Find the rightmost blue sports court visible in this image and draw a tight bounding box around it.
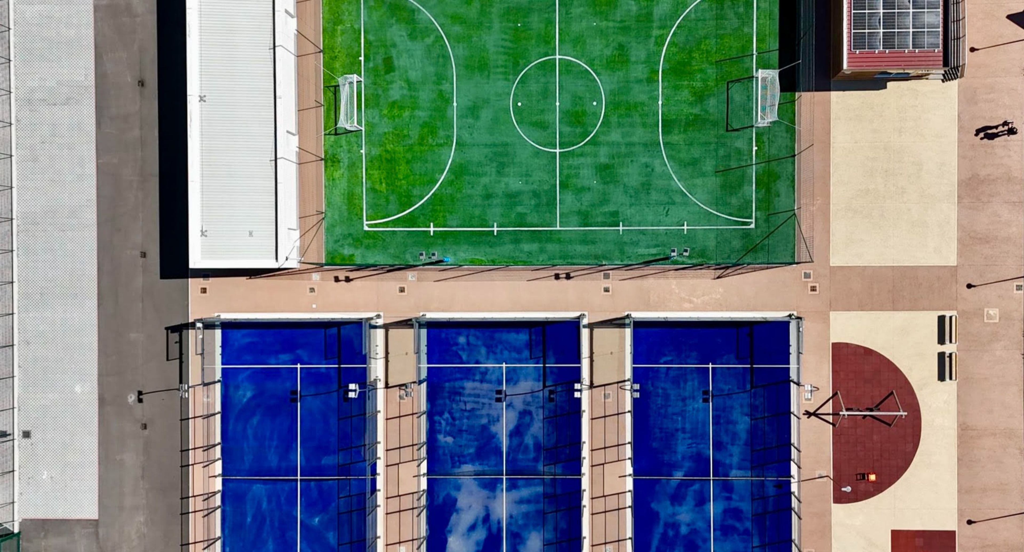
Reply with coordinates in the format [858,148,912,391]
[626,314,805,552]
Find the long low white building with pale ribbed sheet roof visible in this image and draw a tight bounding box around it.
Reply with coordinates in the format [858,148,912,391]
[188,0,301,268]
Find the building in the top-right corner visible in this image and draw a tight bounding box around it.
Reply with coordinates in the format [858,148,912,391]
[833,0,962,84]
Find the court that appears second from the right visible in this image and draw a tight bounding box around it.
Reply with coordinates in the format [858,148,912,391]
[415,314,588,552]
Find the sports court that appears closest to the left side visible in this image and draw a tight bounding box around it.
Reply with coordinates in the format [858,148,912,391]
[196,314,383,552]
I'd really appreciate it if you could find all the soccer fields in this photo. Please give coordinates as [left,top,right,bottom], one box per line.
[321,0,797,266]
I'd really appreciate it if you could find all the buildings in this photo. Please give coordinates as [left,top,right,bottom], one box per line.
[188,0,301,268]
[833,0,962,84]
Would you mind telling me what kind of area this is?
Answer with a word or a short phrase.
sports ground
